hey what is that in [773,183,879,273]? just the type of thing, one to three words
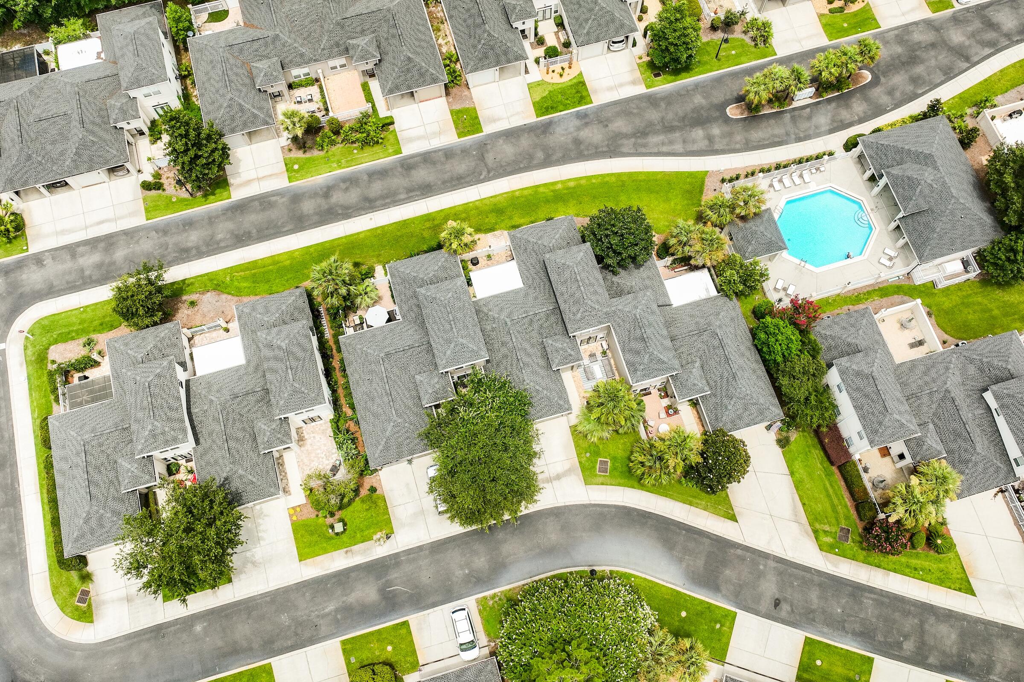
swimming pool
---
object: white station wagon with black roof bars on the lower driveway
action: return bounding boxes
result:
[449,603,483,666]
